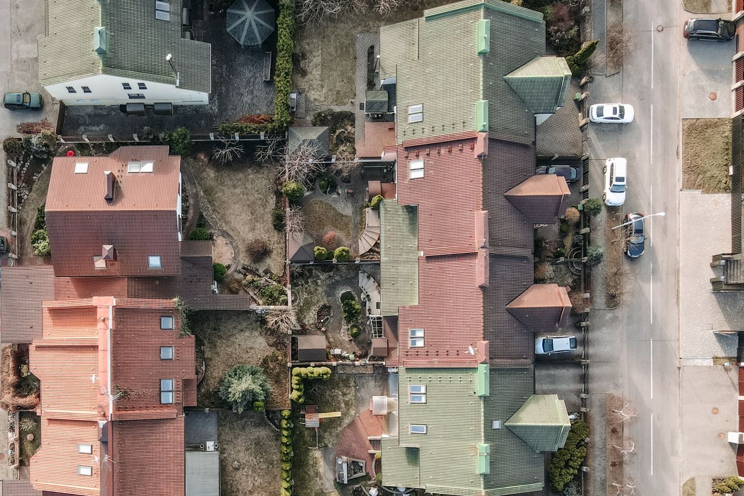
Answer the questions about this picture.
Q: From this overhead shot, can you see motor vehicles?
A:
Yes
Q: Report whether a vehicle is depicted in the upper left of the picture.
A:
Yes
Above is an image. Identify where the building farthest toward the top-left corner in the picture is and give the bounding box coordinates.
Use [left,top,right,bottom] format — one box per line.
[39,0,211,106]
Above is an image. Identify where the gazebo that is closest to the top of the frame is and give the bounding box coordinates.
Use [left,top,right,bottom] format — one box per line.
[226,0,275,50]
